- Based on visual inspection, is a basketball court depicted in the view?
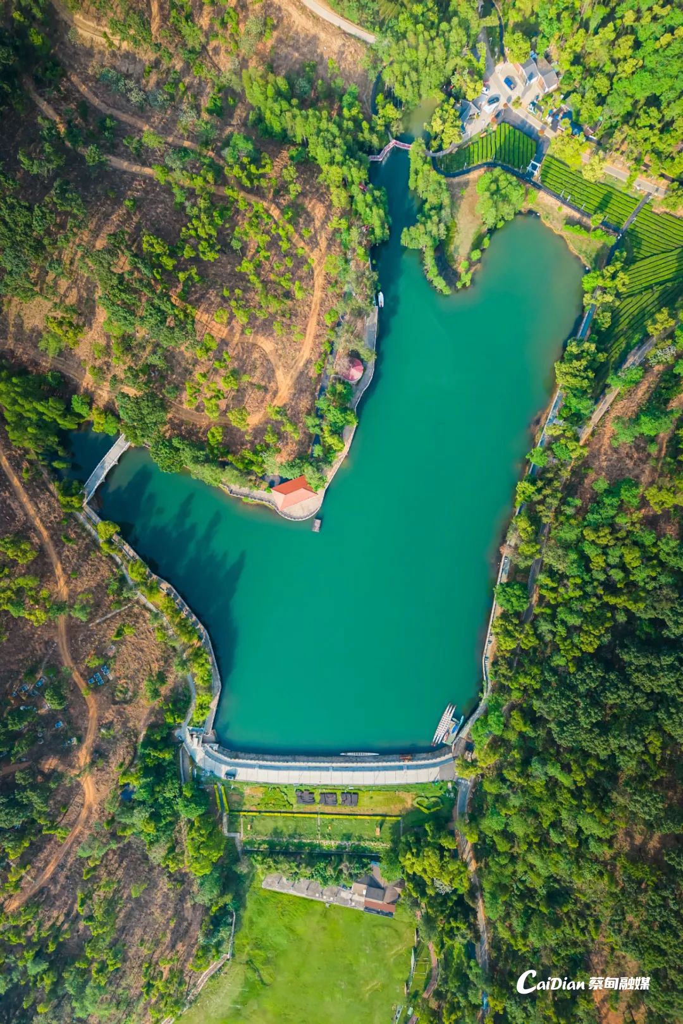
No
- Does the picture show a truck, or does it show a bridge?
bridge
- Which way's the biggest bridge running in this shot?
at an angle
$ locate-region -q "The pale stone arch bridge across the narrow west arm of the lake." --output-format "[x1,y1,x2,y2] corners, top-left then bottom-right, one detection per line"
[82,439,130,496]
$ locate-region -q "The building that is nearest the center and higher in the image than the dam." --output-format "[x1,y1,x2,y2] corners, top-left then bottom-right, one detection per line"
[272,478,317,510]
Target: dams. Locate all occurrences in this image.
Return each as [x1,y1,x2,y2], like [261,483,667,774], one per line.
[188,743,455,786]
